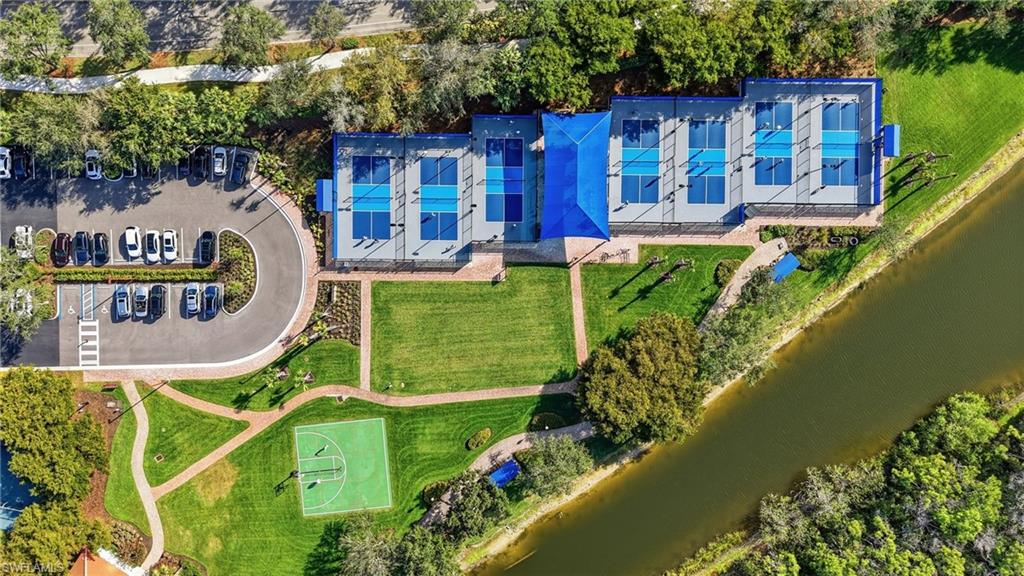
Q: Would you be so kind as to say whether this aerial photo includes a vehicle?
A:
Yes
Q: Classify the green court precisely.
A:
basketball court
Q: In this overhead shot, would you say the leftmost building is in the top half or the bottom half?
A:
bottom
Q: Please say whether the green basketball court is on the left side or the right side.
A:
left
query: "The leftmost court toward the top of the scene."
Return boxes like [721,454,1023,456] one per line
[337,137,403,260]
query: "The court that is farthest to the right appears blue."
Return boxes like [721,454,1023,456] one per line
[810,82,875,204]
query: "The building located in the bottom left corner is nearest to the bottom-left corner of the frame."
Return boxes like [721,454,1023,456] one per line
[66,543,136,576]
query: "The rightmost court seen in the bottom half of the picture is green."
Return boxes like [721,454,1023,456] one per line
[294,418,392,517]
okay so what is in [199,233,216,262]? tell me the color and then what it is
black car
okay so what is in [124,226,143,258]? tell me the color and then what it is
white car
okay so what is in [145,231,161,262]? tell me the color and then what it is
white car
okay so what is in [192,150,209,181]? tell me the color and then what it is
black car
